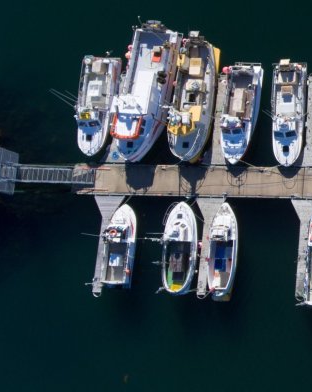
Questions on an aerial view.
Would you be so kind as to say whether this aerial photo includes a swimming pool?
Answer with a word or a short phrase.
No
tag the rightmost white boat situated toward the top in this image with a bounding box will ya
[265,62,306,167]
